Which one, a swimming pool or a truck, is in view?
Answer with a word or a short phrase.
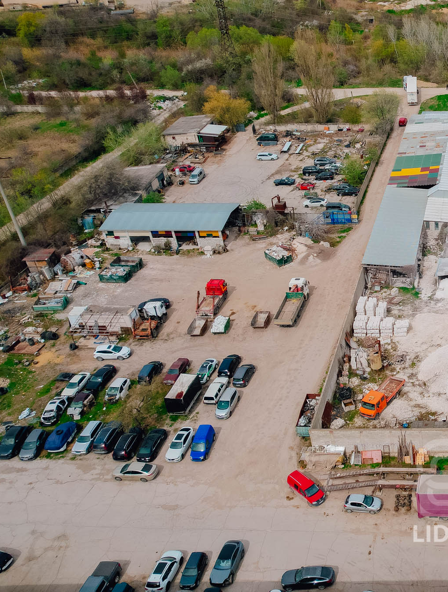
truck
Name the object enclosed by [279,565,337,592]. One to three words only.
car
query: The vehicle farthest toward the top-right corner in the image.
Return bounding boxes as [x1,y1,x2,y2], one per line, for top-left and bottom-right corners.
[407,75,424,102]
